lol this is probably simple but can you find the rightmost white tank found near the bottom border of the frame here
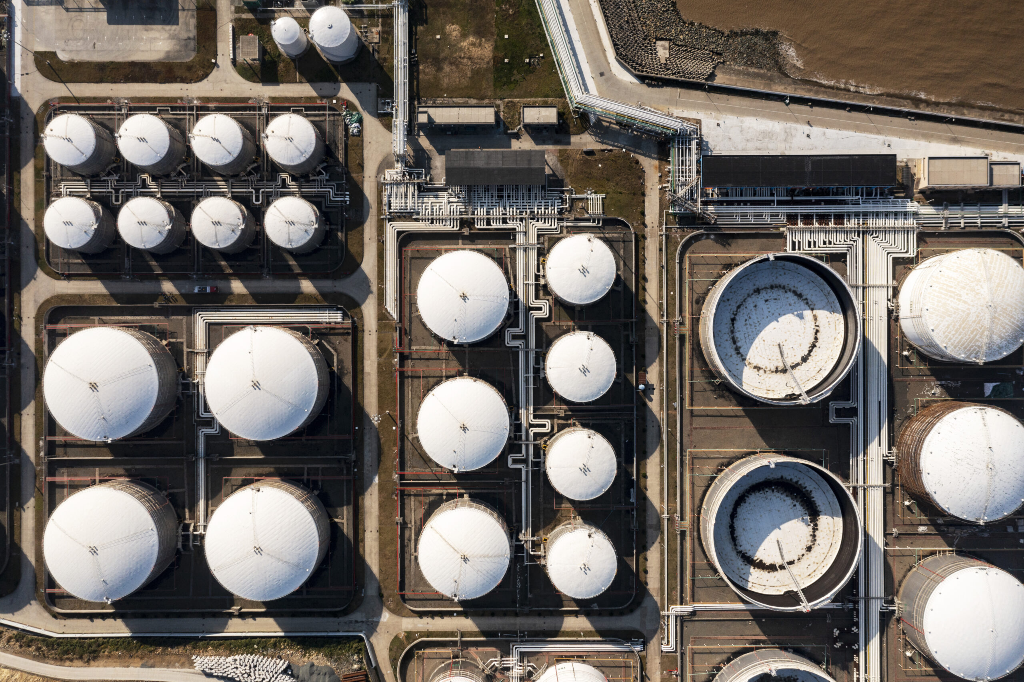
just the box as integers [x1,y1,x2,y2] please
[898,552,1024,682]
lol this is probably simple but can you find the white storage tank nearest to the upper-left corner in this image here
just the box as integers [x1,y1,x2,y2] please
[39,112,117,175]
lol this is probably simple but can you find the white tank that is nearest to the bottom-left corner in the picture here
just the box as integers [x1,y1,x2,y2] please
[42,479,179,605]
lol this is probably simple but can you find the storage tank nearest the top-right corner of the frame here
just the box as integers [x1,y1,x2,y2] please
[897,246,1024,366]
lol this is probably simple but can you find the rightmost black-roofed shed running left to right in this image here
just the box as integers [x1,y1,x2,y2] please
[699,154,896,192]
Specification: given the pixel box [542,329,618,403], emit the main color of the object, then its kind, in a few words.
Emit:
white storage tank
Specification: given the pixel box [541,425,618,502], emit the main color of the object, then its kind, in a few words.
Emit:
white storage tank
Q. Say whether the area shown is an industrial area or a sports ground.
industrial area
